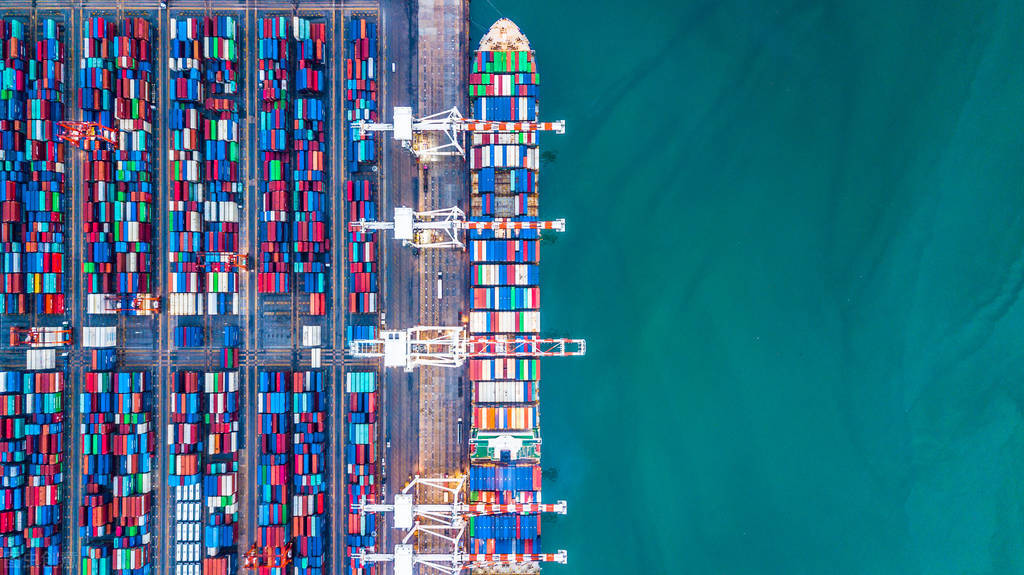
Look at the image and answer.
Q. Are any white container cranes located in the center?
Yes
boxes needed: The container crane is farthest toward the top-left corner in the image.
[57,122,118,148]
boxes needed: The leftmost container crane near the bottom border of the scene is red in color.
[241,542,293,574]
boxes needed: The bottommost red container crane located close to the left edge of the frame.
[10,326,73,345]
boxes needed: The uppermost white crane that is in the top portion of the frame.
[351,107,566,162]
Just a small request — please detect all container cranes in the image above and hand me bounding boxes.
[57,122,118,148]
[193,252,247,270]
[351,319,585,371]
[10,326,73,345]
[351,204,566,253]
[351,469,566,529]
[351,107,566,162]
[101,295,160,313]
[351,515,566,575]
[241,542,293,574]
